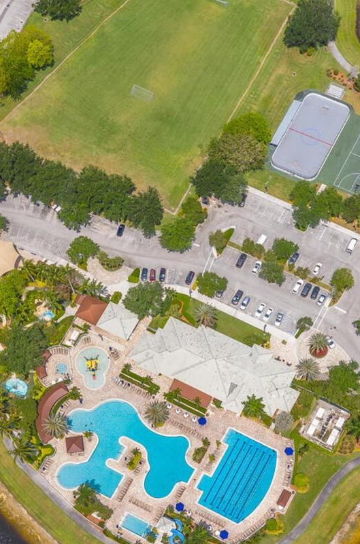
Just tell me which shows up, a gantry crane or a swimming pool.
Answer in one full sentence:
The image shows a swimming pool.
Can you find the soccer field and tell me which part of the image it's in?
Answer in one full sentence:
You can find the soccer field in the top area of the picture.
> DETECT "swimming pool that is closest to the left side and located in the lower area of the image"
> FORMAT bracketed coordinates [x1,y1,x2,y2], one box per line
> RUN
[4,378,29,397]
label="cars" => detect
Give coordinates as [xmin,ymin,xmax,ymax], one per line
[324,334,337,349]
[292,279,303,294]
[255,302,264,317]
[312,262,322,277]
[240,296,251,311]
[316,293,326,308]
[289,252,299,265]
[236,253,246,268]
[215,287,225,301]
[239,193,247,207]
[274,312,284,326]
[302,283,311,298]
[116,223,124,238]
[252,260,262,275]
[159,268,166,282]
[310,285,320,300]
[232,289,242,304]
[184,270,195,285]
[141,268,148,282]
[149,268,156,282]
